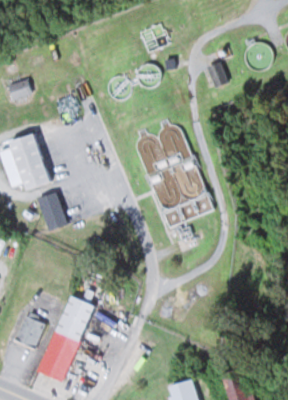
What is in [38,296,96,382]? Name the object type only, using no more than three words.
building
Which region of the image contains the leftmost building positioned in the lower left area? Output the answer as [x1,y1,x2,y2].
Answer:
[16,316,46,348]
